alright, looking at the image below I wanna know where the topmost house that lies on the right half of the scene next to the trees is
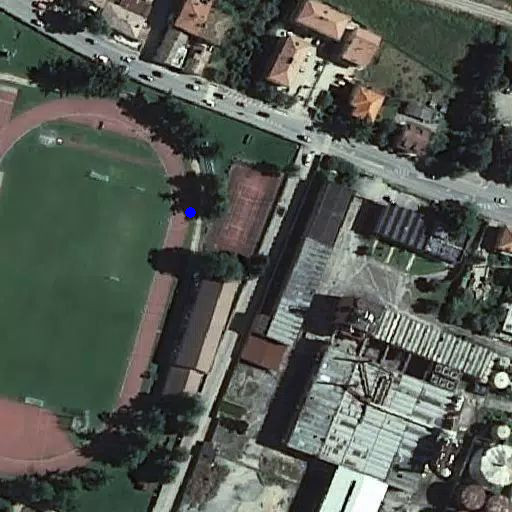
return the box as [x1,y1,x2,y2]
[294,0,352,42]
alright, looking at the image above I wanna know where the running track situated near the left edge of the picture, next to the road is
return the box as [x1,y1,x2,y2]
[0,82,188,479]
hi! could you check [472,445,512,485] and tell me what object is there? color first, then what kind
white storage tank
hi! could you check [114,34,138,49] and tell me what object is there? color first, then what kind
white vehicle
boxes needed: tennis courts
[206,164,285,256]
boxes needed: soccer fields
[0,114,170,460]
